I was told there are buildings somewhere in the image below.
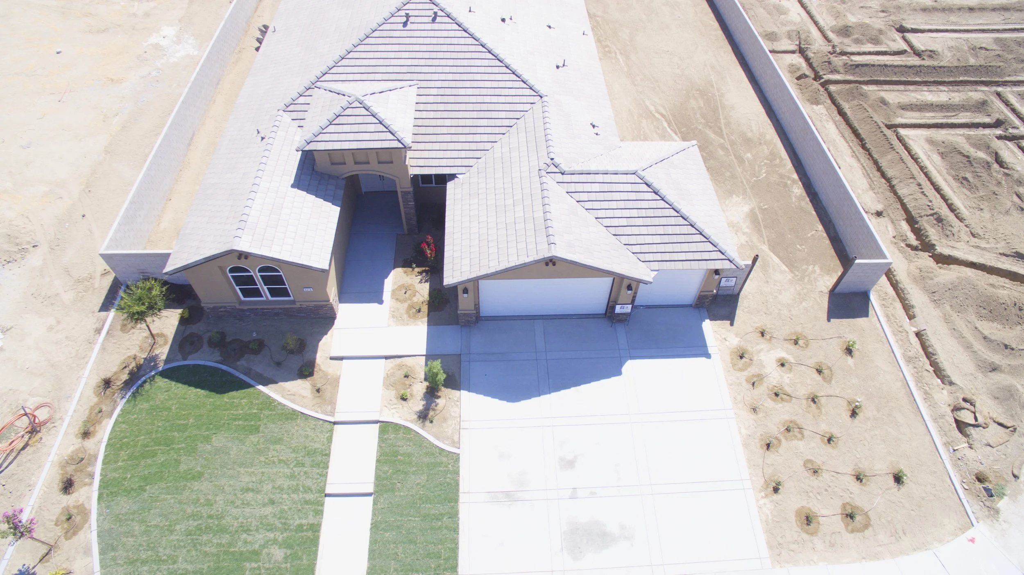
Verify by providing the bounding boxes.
[163,0,747,327]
